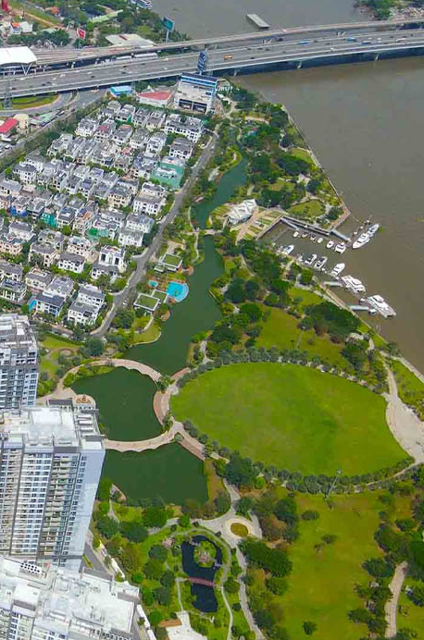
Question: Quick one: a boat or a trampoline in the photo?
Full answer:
I can see a boat in this picture.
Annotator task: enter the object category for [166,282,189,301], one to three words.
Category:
swimming pool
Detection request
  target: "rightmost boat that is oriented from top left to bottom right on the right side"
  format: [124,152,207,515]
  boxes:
[366,294,397,316]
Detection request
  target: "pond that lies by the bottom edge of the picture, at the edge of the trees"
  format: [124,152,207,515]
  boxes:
[182,535,222,612]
